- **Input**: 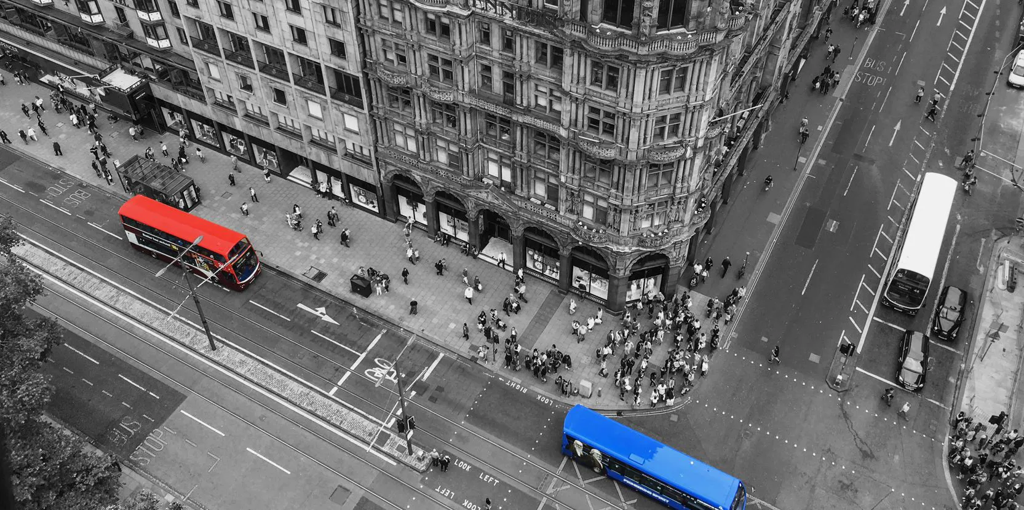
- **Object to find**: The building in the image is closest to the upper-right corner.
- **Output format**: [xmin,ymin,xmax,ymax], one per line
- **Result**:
[346,0,839,309]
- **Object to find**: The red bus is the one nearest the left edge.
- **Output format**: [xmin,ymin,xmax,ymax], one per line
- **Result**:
[122,191,262,296]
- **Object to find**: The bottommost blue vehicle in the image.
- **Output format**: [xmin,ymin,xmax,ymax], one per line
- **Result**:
[559,404,755,510]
